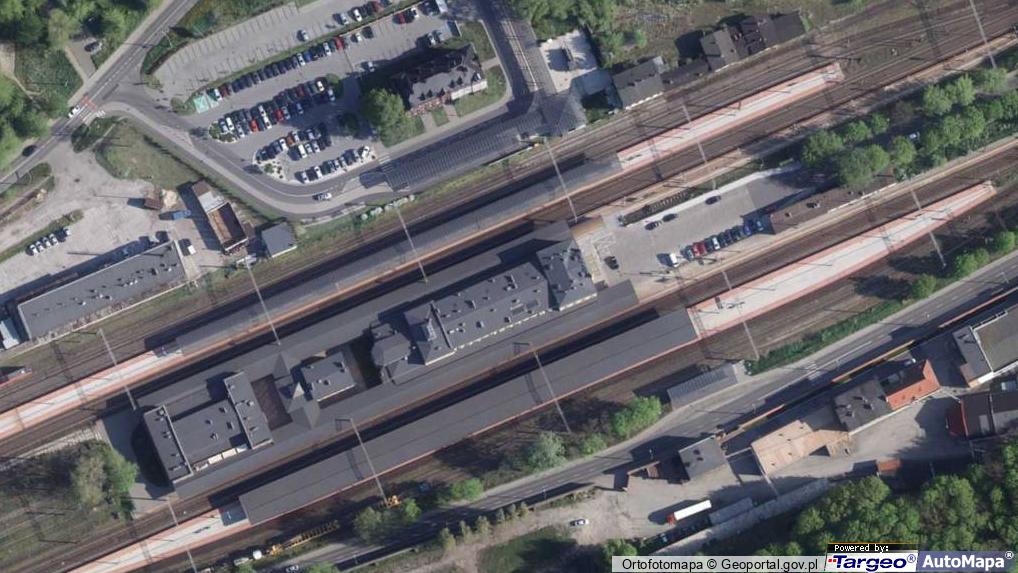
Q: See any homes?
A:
Yes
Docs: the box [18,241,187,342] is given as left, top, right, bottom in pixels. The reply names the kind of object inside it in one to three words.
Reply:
building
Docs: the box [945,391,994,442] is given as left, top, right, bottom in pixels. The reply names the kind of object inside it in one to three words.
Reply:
house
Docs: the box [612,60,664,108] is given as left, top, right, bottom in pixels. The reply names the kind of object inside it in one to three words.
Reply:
house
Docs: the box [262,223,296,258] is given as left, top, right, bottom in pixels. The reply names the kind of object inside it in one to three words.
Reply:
shed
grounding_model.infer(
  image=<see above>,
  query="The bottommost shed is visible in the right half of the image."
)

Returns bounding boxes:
[709,498,754,526]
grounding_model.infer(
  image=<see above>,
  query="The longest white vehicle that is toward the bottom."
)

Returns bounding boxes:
[665,498,713,524]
